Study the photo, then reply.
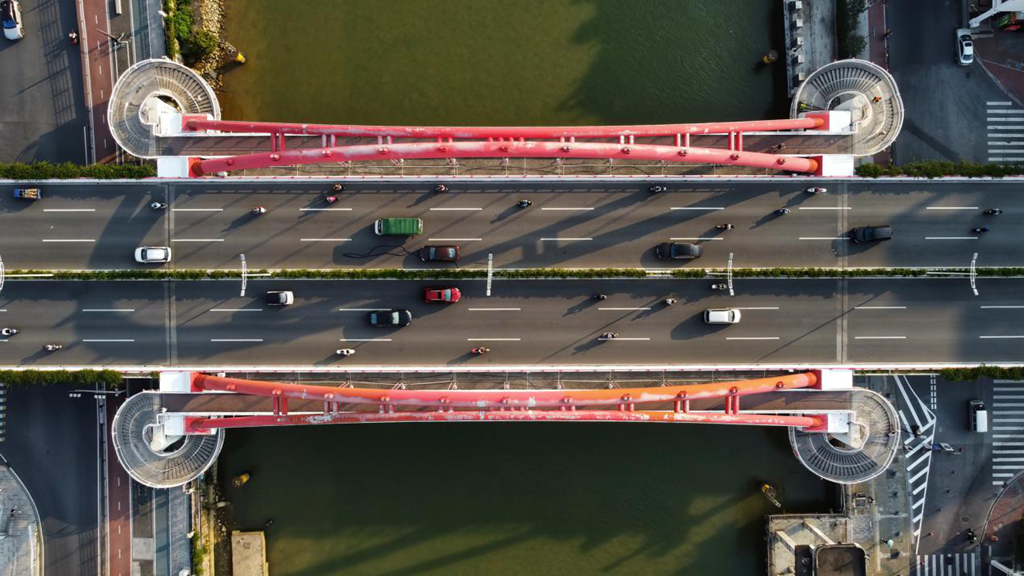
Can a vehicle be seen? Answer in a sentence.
Yes, a vehicle is visible in the scene.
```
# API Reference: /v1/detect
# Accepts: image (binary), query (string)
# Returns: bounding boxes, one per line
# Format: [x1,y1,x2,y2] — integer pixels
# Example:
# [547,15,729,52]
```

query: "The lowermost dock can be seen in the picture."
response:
[231,531,271,576]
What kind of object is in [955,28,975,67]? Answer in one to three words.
car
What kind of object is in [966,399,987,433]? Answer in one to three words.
vehicle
